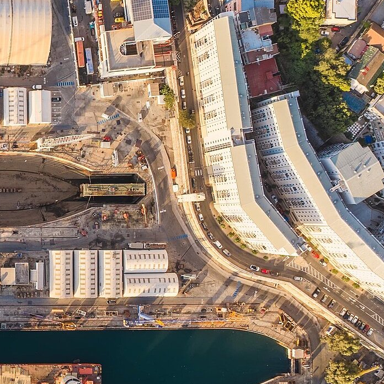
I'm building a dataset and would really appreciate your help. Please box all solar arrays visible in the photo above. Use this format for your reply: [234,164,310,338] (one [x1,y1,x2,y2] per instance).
[137,0,152,22]
[152,0,170,18]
